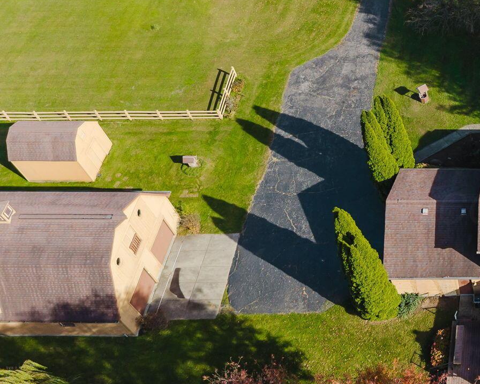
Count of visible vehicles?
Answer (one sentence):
The picture shows no vehicles.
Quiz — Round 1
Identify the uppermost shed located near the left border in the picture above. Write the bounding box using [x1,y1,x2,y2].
[8,122,111,180]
